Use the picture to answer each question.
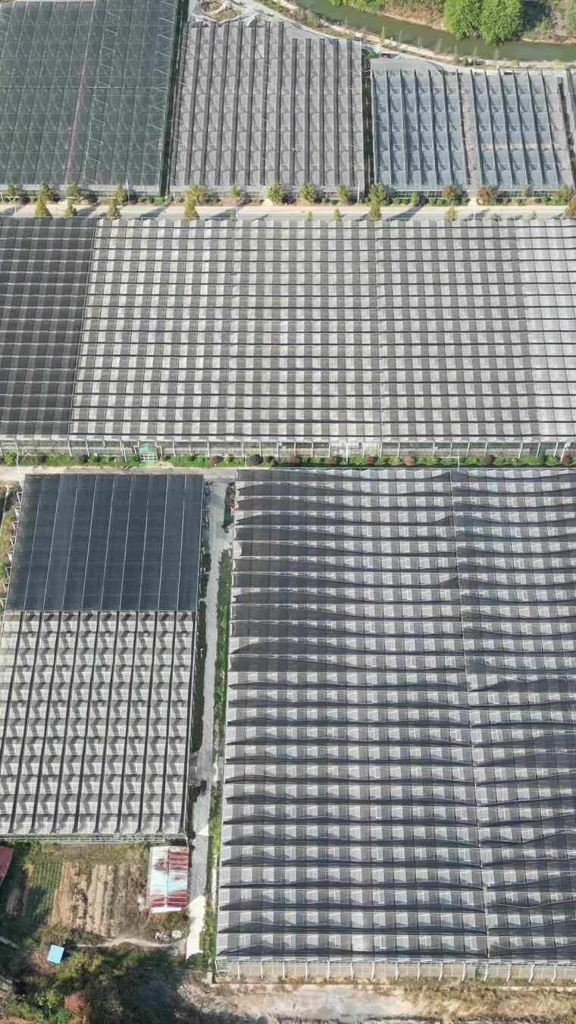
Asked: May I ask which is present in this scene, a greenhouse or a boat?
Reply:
greenhouse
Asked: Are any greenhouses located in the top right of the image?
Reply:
Yes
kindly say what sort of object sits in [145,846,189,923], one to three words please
shed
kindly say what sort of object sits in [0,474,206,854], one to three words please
greenhouse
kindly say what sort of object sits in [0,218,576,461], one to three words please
greenhouse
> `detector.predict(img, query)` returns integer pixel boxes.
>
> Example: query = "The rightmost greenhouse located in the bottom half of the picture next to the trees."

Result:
[215,465,576,983]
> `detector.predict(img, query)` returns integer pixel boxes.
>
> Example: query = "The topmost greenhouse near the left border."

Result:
[0,0,179,199]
